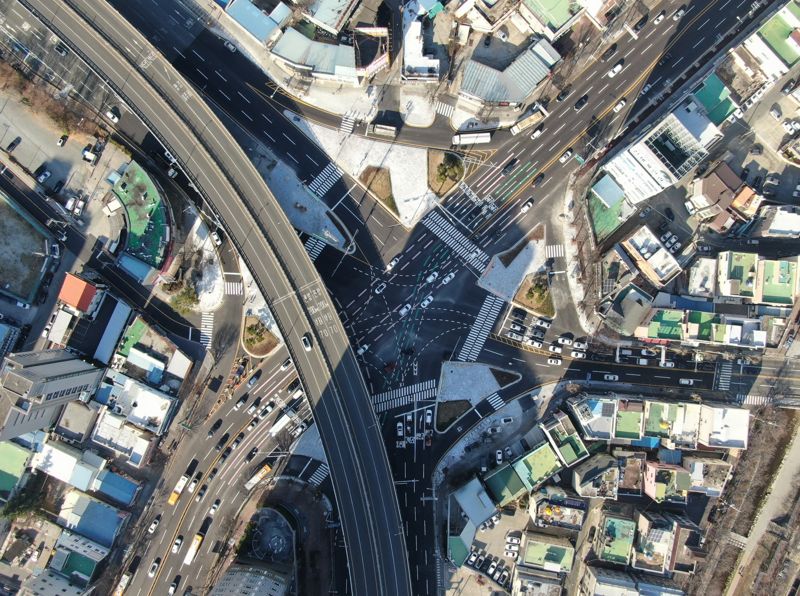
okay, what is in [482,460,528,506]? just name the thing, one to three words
house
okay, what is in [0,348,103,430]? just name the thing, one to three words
building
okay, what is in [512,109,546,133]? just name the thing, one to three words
bus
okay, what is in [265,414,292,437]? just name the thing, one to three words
truck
